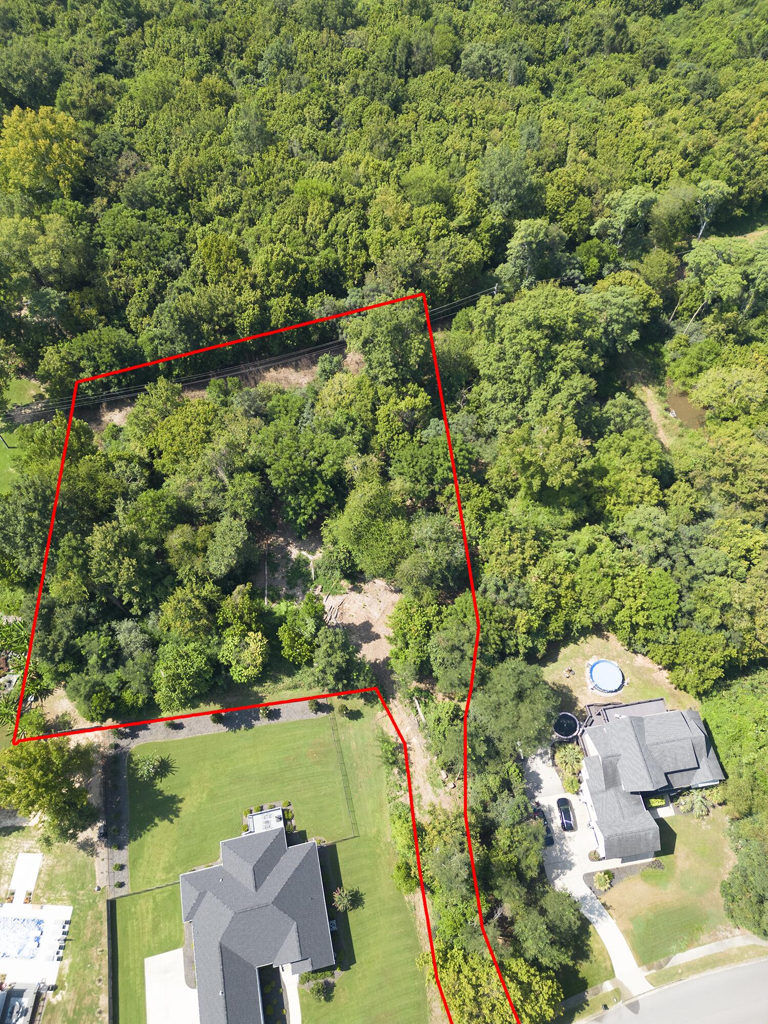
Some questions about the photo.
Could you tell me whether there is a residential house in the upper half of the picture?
No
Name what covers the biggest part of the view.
trees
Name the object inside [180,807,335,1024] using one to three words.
house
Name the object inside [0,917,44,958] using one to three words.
swimming pool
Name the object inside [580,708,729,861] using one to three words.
house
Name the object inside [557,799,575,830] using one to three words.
car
